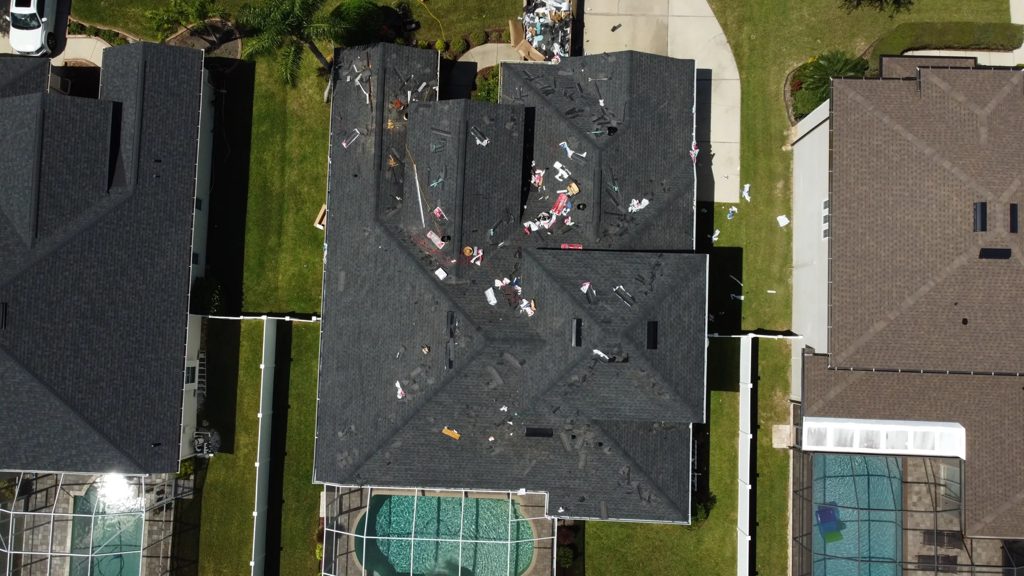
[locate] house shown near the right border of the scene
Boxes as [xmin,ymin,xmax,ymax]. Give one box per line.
[792,55,1024,538]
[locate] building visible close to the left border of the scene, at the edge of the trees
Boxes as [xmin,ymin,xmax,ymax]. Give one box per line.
[0,42,217,478]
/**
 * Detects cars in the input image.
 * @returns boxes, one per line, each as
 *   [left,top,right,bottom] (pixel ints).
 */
[7,0,59,57]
